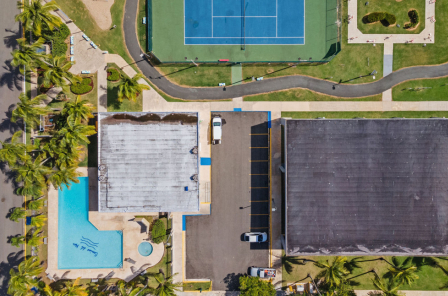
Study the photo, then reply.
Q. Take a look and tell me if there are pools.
Yes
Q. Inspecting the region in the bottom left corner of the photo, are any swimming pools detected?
Yes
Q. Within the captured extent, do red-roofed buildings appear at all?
No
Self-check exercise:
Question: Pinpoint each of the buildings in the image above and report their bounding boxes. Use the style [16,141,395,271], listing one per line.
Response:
[98,112,199,212]
[278,113,448,255]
